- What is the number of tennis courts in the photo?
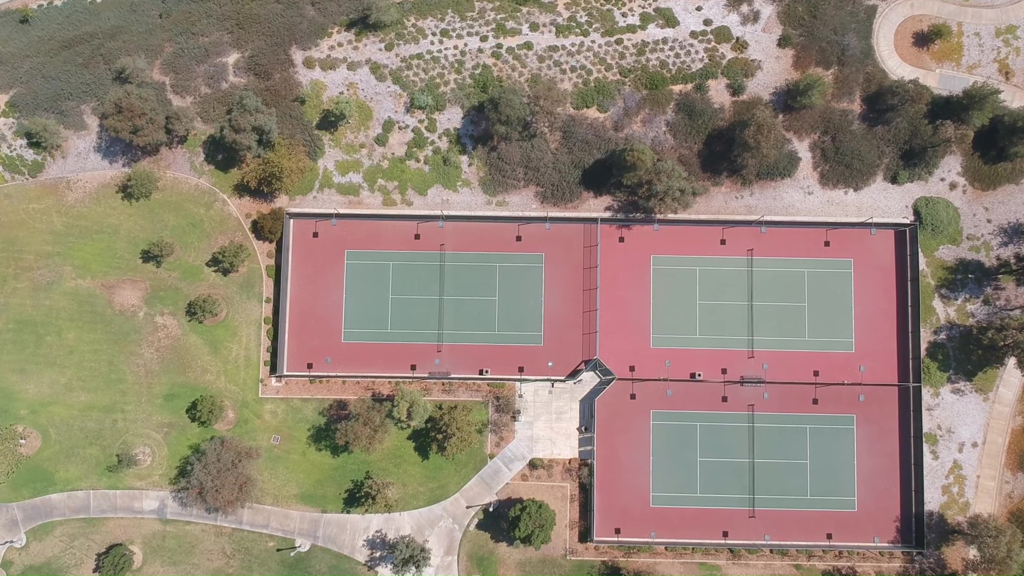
3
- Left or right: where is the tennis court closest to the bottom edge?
right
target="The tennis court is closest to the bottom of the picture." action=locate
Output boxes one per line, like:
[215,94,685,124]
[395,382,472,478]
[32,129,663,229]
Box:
[591,377,914,545]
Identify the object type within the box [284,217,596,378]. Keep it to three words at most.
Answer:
tennis court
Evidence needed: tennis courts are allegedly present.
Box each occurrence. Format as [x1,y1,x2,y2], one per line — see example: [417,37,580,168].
[597,221,911,382]
[591,377,914,545]
[284,217,596,378]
